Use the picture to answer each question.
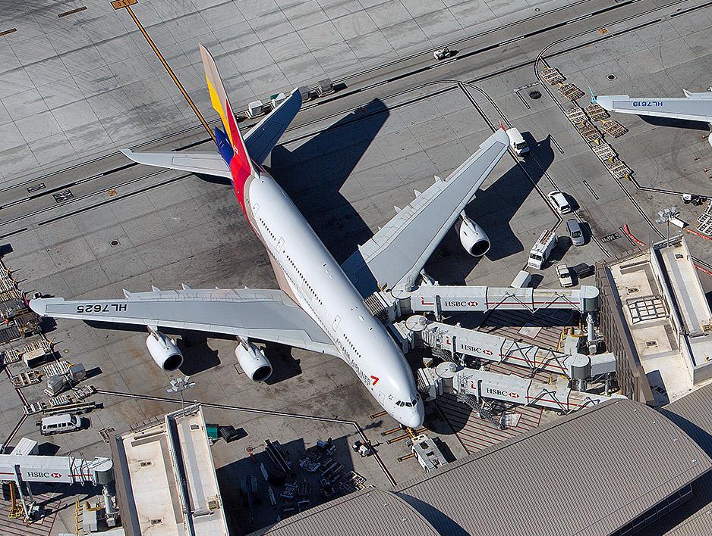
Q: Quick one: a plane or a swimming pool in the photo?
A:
plane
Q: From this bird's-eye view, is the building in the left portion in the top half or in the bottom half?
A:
bottom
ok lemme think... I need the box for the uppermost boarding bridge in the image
[366,279,605,355]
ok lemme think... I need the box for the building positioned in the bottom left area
[113,403,227,536]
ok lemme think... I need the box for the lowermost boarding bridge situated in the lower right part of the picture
[410,361,627,435]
